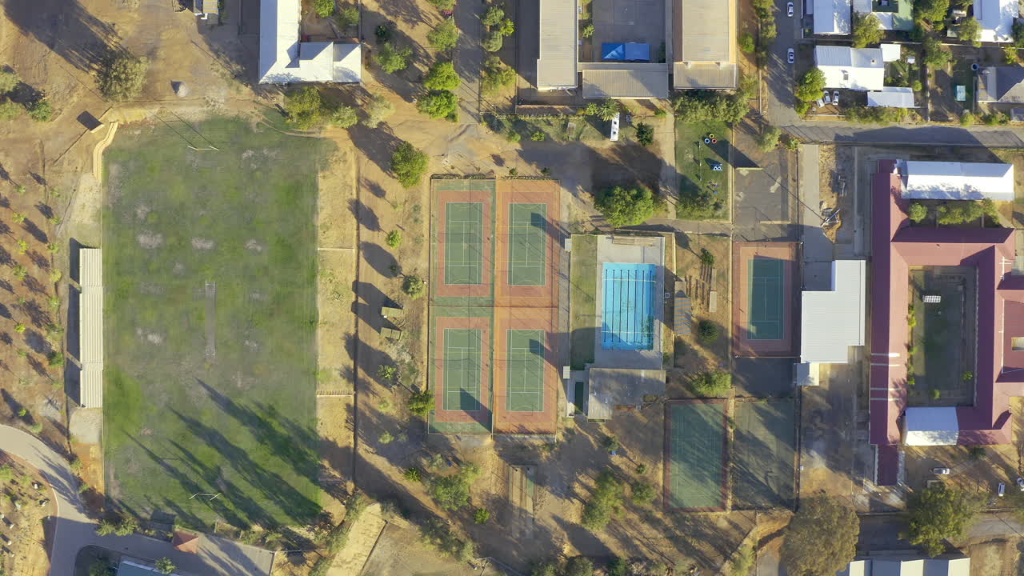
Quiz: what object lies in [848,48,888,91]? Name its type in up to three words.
house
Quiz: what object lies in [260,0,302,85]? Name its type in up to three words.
building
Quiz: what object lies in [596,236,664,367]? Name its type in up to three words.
swimming pool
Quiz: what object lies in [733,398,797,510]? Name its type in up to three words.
sports court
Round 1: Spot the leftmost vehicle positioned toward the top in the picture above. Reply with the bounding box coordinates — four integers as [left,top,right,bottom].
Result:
[609,113,621,142]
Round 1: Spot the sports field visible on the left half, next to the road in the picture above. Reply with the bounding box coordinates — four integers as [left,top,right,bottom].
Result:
[98,114,326,535]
